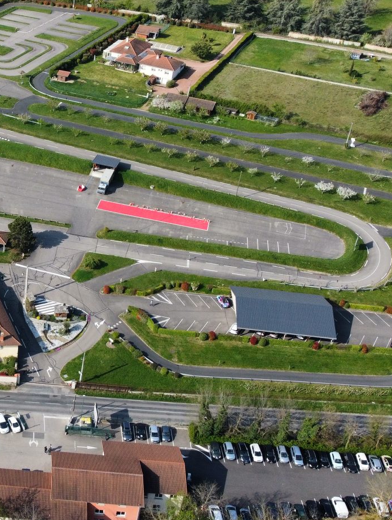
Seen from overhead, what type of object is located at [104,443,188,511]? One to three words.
building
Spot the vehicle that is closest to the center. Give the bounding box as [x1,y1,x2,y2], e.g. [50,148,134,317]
[216,295,230,307]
